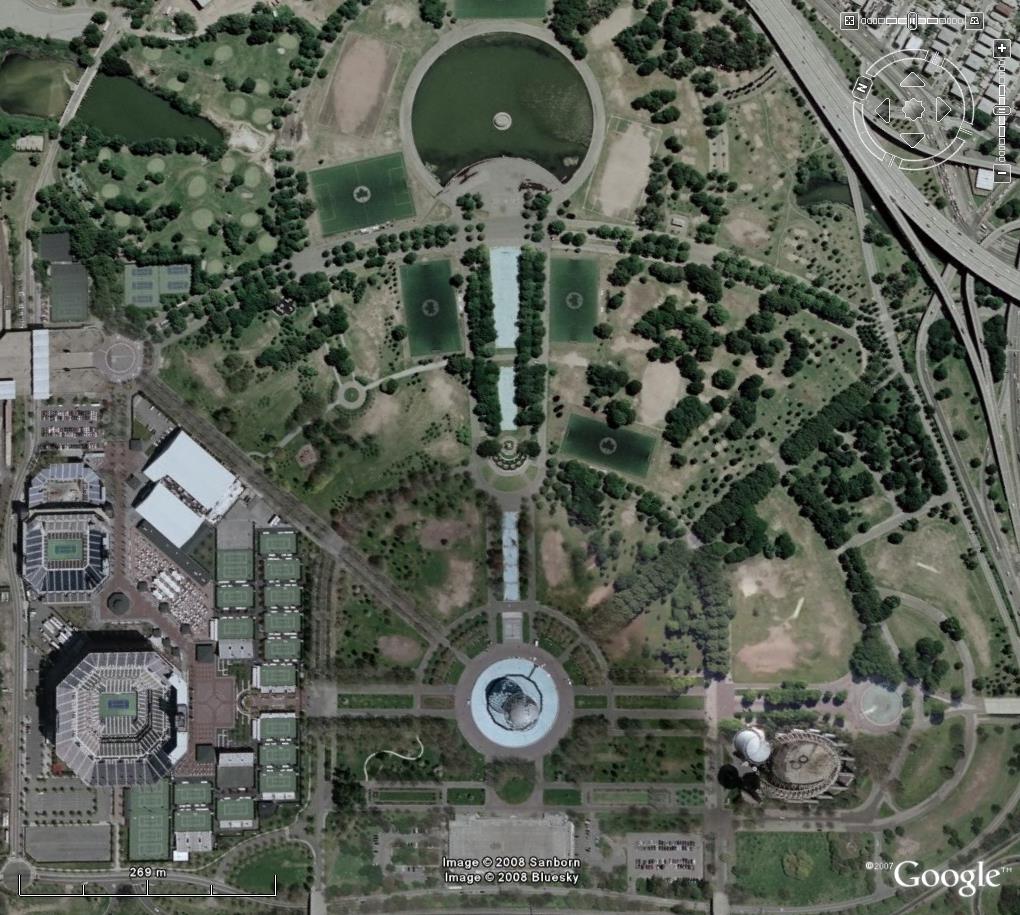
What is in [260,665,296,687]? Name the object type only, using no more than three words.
tennis court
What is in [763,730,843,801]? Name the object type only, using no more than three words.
building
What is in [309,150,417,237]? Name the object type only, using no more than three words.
soccer field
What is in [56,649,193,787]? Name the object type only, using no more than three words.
stadium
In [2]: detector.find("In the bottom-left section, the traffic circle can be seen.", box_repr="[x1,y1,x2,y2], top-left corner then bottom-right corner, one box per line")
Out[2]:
[0,855,36,891]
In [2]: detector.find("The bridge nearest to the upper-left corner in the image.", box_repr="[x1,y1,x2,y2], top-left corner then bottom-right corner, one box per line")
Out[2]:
[57,50,103,132]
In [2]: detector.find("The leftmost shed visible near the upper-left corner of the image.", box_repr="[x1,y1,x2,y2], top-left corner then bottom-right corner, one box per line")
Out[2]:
[14,136,44,150]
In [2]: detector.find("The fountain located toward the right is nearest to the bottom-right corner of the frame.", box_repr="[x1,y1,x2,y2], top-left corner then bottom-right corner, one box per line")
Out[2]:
[861,683,902,724]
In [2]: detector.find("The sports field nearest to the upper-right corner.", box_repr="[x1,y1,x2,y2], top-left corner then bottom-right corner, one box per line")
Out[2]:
[584,115,662,226]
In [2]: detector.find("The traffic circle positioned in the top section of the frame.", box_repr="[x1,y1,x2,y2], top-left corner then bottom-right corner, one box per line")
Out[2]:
[96,334,144,382]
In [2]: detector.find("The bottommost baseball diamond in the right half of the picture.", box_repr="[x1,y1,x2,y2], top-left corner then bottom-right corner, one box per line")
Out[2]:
[739,597,803,670]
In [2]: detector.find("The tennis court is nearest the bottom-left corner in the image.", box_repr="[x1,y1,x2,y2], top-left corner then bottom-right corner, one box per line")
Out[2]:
[128,786,169,861]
